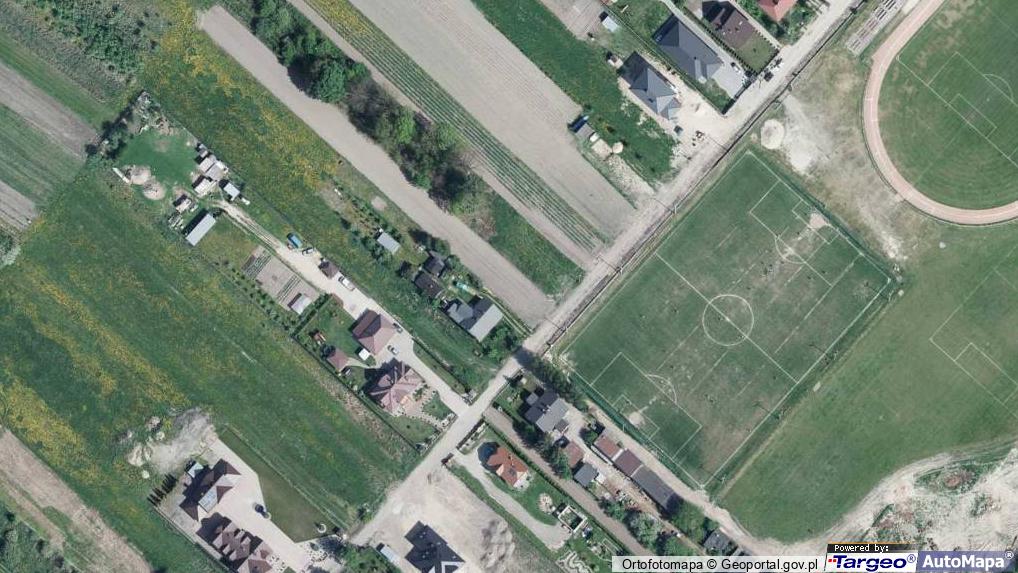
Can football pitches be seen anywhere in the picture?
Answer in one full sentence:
Yes, you can see a football pitch in this photo.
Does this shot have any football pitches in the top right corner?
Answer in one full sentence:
Yes, a football pitch is visible in the top right corner.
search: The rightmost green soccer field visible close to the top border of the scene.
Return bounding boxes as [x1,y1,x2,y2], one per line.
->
[877,0,1018,211]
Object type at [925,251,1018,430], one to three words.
soccer field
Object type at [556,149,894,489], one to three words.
soccer field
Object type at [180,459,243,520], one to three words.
house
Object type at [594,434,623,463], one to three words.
building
